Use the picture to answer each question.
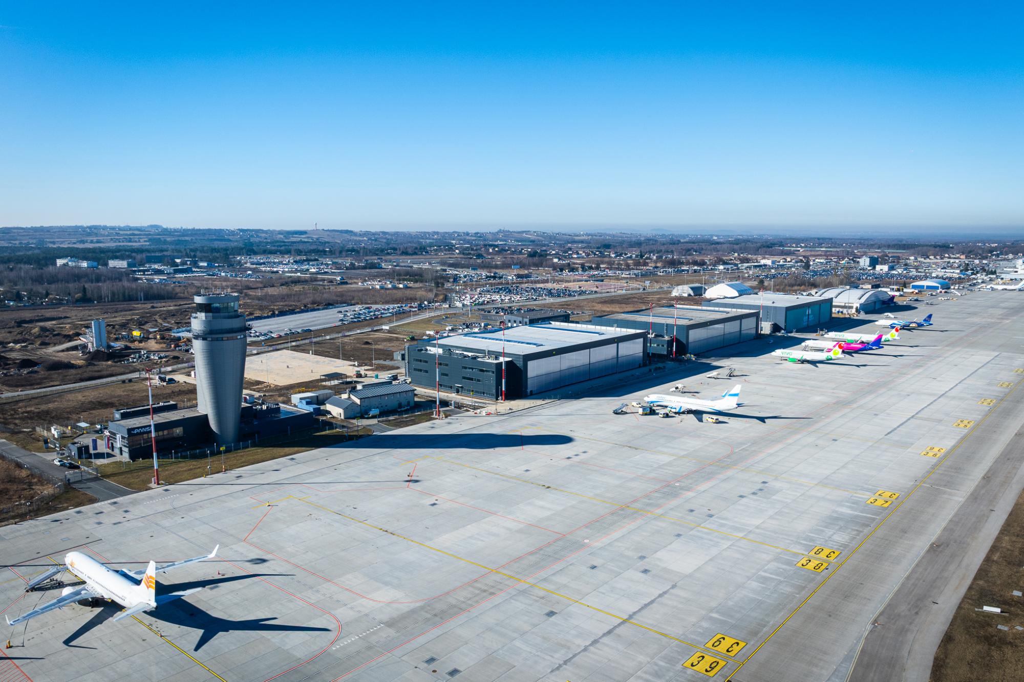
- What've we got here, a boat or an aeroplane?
aeroplane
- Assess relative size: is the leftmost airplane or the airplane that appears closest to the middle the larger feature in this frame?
the leftmost airplane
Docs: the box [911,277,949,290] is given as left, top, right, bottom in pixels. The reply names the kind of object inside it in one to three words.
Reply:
hangar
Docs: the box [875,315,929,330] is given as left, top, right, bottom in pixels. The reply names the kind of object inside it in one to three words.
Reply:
airplane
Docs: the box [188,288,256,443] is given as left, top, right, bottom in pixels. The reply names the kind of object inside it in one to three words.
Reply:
building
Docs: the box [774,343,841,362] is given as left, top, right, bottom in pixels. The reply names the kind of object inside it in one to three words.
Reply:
airplane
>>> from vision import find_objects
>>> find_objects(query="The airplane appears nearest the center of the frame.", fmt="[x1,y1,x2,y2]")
[644,387,739,414]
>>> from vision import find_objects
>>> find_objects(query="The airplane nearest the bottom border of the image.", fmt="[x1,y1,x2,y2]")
[9,547,213,625]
